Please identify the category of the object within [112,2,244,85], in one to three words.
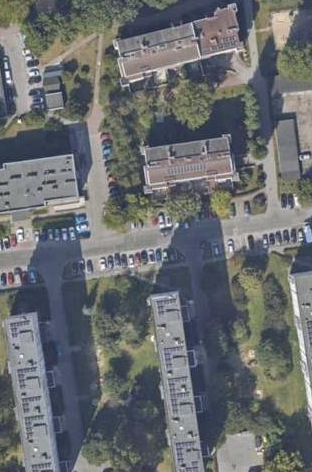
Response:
house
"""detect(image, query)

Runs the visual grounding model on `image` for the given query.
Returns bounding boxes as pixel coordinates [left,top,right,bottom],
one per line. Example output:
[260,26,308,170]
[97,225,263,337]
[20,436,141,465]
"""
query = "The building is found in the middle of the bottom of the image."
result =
[149,291,212,472]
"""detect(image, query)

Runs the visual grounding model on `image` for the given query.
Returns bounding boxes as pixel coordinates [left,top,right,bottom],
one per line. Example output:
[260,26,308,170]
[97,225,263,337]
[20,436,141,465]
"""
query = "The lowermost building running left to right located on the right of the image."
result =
[140,134,240,194]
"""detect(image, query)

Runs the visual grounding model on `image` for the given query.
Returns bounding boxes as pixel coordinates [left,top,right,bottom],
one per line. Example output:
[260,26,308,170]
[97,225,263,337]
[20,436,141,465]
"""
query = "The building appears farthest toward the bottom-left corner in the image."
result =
[7,312,70,472]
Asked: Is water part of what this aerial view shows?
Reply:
No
